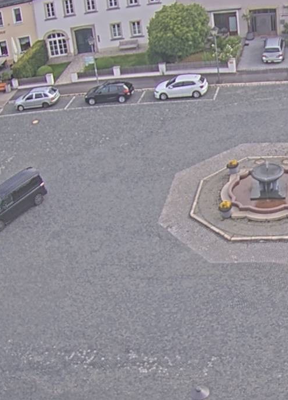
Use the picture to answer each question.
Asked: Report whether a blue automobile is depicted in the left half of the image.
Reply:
No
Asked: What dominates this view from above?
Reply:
paved ground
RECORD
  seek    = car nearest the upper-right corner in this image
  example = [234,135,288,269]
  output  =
[258,36,283,64]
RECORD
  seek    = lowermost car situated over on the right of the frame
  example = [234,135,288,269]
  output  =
[154,72,209,100]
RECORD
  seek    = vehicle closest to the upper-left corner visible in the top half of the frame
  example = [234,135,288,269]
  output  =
[11,83,61,111]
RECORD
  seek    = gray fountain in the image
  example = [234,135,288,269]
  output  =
[215,157,288,225]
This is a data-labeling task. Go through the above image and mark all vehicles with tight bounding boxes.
[83,77,134,104]
[258,36,283,64]
[154,72,209,100]
[0,170,45,230]
[11,83,61,111]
